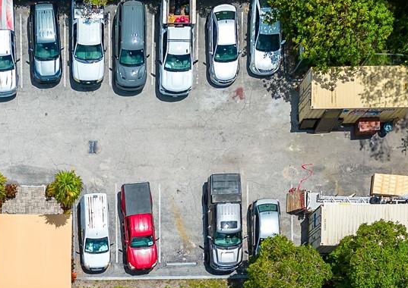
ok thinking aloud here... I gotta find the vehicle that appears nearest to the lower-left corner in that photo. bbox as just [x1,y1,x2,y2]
[78,190,114,274]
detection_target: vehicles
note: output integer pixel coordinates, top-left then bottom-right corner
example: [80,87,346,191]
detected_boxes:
[248,0,287,76]
[121,180,160,273]
[0,0,19,100]
[205,7,242,89]
[111,2,149,92]
[78,190,114,274]
[27,1,64,85]
[205,171,247,275]
[248,201,283,280]
[158,0,198,98]
[70,0,108,87]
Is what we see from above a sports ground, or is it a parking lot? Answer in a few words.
parking lot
